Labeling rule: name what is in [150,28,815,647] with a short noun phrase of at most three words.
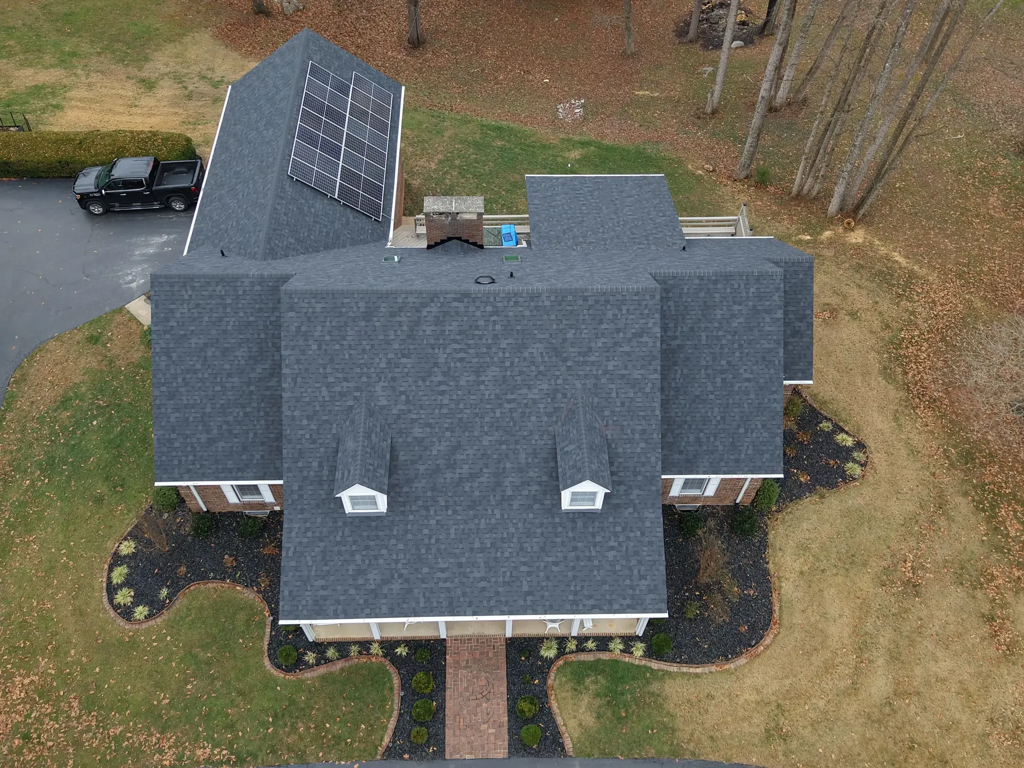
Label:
house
